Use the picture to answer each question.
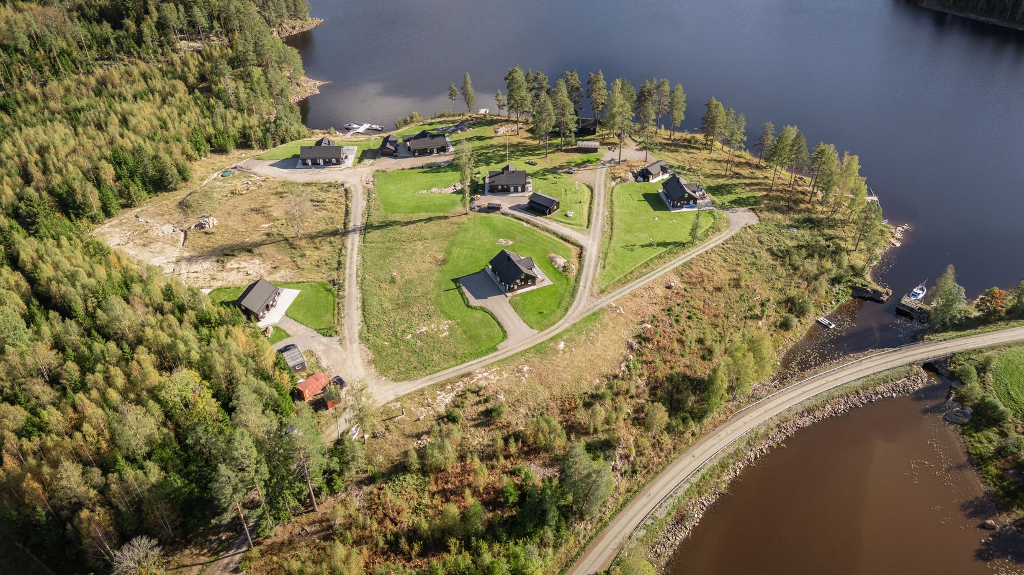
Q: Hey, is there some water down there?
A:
Yes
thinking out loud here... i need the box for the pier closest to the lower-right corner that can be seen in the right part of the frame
[898,290,934,322]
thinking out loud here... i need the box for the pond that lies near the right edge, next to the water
[663,363,1024,575]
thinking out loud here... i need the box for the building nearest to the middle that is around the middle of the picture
[486,249,553,297]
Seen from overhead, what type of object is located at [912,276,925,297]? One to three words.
boat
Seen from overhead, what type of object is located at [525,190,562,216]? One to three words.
building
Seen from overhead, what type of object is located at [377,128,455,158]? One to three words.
house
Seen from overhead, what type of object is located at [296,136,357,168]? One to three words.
house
